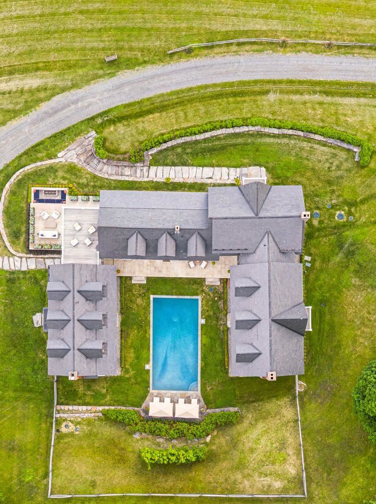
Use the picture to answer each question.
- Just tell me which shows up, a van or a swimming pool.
swimming pool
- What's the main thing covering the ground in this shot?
grass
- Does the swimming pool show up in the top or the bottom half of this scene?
bottom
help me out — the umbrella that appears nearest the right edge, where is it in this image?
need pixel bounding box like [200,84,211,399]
[175,404,199,419]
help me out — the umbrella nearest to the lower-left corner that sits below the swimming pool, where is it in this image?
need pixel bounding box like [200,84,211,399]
[149,402,173,417]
